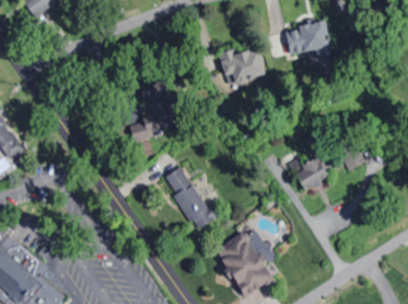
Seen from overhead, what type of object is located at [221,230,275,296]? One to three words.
house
